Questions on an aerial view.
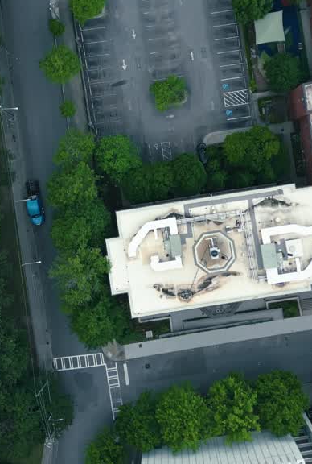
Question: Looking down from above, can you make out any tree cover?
Yes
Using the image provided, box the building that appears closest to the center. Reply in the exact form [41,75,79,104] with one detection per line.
[106,181,312,318]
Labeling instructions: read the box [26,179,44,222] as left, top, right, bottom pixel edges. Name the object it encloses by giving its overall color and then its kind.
blue vehicle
